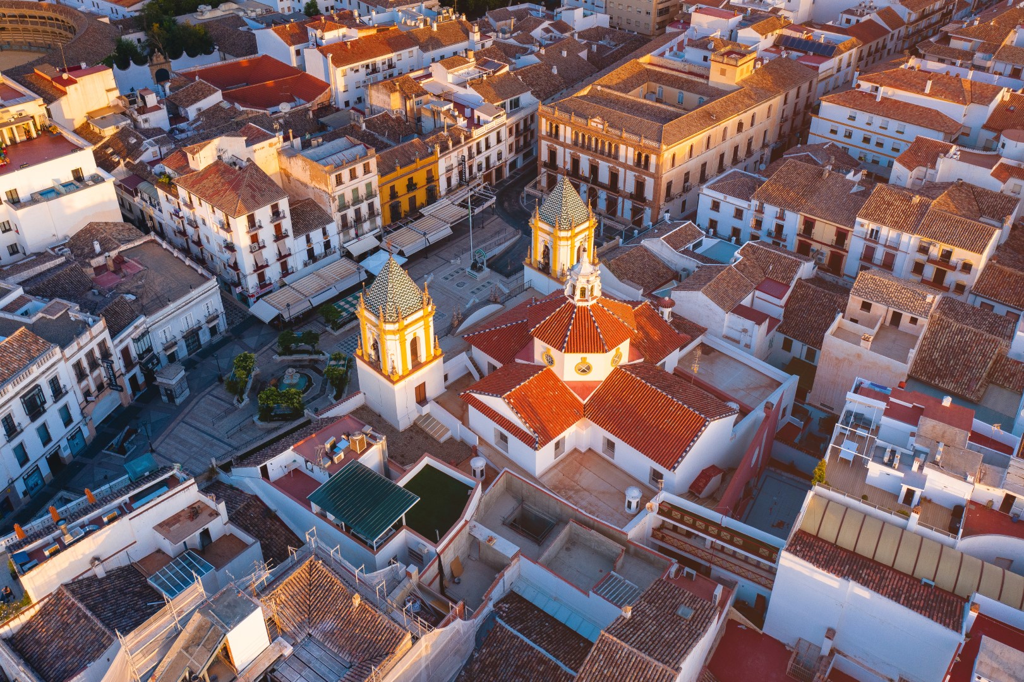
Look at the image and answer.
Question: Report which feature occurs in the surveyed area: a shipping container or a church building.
church building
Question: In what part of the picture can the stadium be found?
top left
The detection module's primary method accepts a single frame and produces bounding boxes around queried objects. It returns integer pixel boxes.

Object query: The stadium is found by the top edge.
[0,0,129,80]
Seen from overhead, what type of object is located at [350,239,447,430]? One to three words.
building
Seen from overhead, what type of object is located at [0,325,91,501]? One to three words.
house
